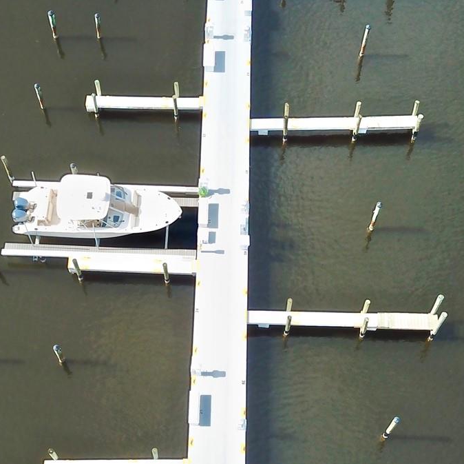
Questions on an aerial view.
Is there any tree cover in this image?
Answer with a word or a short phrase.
No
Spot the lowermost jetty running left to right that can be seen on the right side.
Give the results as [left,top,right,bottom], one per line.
[248,310,435,334]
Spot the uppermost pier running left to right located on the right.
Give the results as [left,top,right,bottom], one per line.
[250,116,417,137]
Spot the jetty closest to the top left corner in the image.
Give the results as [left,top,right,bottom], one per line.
[85,96,203,113]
